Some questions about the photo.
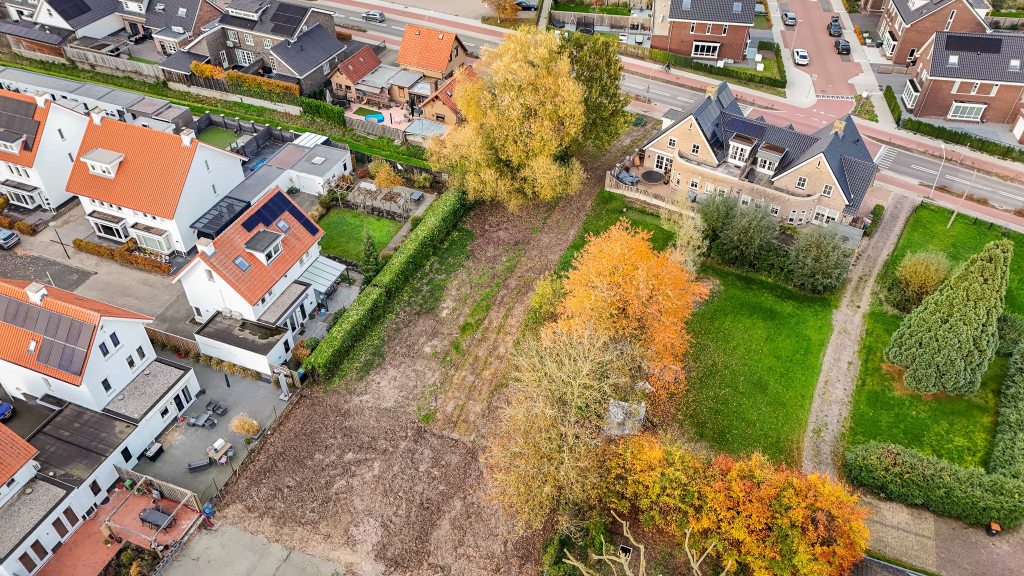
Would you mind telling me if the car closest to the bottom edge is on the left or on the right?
left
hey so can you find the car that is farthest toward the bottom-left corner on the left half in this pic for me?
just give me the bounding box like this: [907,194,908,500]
[0,396,26,421]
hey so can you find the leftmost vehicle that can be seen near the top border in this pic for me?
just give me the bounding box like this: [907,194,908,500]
[360,10,383,23]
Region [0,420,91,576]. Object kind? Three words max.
house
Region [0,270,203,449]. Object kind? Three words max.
house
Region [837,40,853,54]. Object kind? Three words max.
car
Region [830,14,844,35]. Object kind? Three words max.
car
